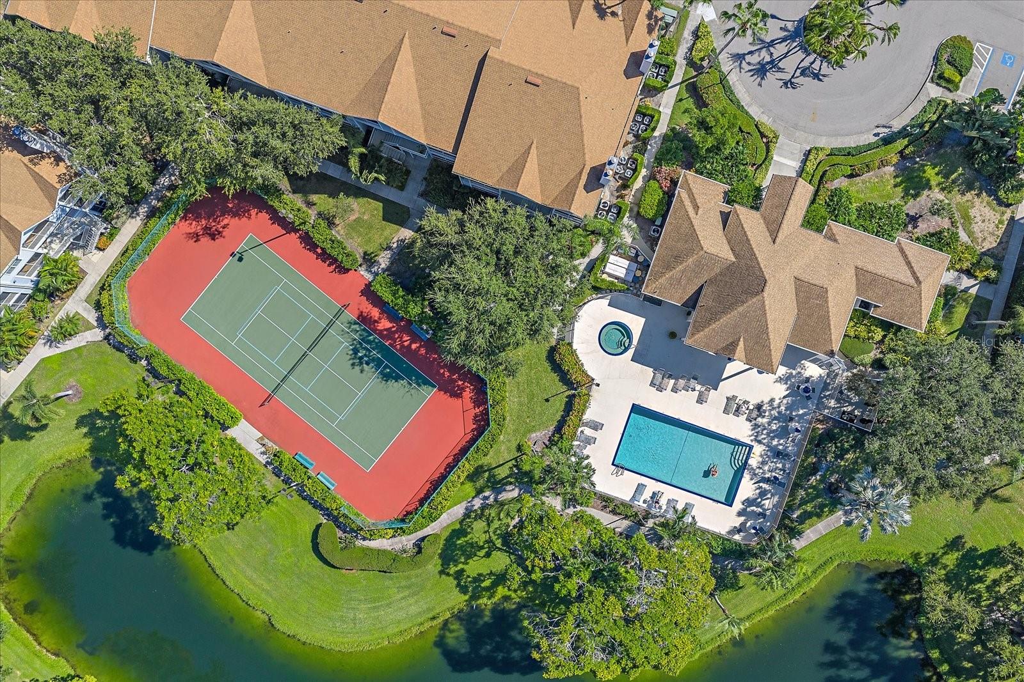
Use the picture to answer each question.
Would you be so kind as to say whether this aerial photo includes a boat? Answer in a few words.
No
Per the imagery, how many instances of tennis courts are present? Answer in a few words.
1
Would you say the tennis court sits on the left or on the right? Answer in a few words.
left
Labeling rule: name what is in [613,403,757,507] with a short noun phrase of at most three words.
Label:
swimming pool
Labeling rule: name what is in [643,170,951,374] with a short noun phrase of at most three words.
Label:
building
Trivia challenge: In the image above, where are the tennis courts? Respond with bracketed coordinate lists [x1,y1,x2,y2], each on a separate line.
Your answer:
[130,192,488,522]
